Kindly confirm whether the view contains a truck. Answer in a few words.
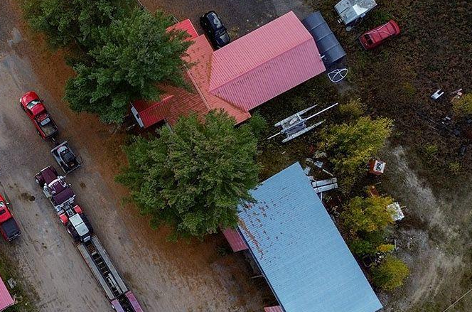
Yes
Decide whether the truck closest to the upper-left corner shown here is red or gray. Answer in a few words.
red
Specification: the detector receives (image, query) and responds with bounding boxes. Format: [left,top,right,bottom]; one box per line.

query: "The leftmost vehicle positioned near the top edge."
[200,8,232,48]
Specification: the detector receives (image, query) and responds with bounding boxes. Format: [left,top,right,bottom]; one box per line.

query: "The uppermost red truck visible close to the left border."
[20,91,59,139]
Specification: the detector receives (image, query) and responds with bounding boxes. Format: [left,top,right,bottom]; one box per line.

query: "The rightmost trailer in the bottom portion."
[69,211,144,312]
